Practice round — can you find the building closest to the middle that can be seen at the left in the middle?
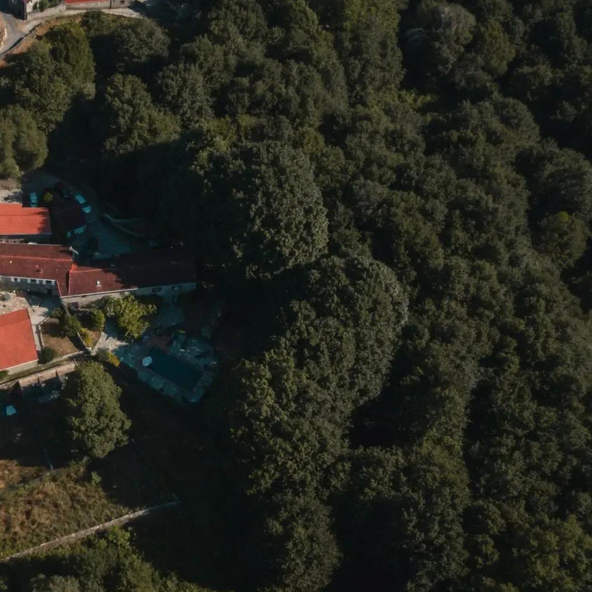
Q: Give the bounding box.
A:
[61,248,197,308]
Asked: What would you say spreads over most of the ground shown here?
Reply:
trees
